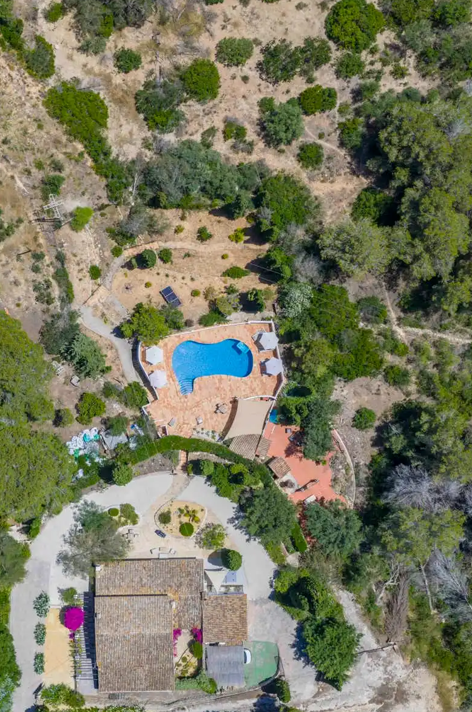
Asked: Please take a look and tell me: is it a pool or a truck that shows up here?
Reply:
pool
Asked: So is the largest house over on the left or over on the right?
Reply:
left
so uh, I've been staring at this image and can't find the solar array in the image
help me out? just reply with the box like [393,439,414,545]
[159,285,183,308]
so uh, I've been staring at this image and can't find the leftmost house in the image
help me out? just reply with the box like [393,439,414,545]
[94,556,206,693]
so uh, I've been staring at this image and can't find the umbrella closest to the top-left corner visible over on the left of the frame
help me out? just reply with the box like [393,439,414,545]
[144,346,163,364]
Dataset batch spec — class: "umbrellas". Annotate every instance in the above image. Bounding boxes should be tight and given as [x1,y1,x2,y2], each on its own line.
[263,358,282,374]
[257,331,276,350]
[149,371,167,389]
[144,346,163,364]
